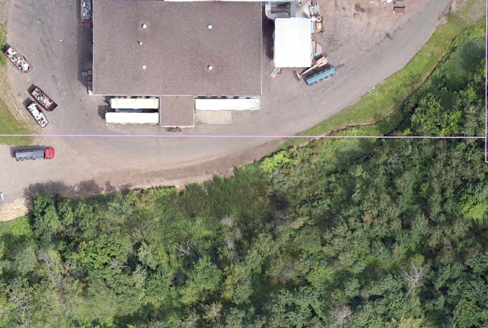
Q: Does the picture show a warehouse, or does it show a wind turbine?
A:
warehouse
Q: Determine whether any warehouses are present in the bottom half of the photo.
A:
No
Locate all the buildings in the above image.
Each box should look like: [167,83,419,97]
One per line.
[273,18,311,67]
[92,1,263,132]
